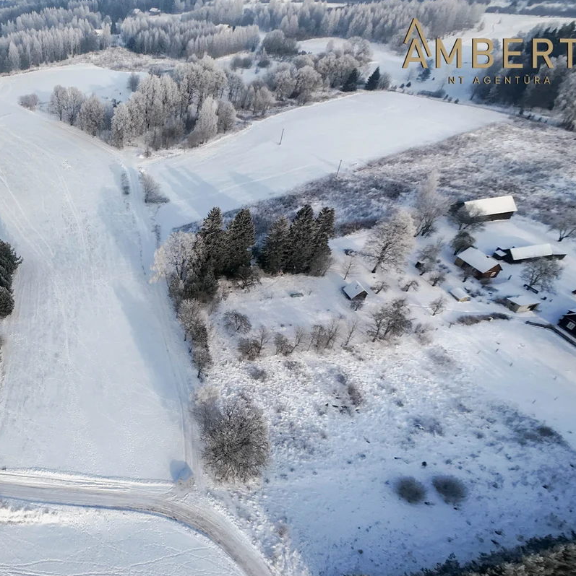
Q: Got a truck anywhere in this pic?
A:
No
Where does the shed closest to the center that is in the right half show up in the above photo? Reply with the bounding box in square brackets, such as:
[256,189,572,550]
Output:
[340,285,372,308]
